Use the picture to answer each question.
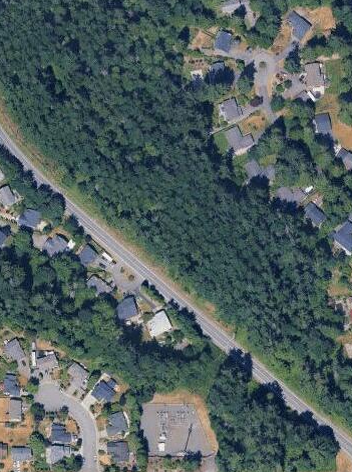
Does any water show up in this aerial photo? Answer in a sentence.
No, there's no water in this view.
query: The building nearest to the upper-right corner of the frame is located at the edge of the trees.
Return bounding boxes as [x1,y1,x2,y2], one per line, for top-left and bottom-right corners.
[286,10,313,37]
